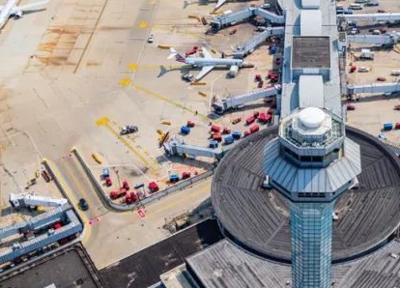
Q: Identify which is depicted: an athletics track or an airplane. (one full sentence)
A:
It is an airplane that can be seen here.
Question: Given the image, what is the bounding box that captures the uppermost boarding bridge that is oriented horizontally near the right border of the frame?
[339,13,400,31]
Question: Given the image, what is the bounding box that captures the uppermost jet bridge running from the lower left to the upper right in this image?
[234,29,285,68]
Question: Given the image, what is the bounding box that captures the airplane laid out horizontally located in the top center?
[178,46,255,80]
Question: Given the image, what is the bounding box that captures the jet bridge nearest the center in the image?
[167,142,224,172]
